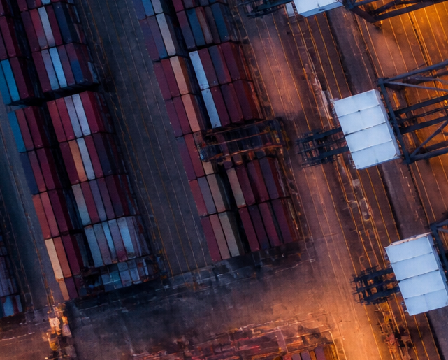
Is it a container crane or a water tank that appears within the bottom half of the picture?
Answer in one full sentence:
What appears within the bottom half of the picture is a container crane.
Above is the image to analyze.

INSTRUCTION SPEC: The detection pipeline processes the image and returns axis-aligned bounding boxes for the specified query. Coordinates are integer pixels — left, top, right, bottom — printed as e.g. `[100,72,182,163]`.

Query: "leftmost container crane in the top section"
[198,108,307,169]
